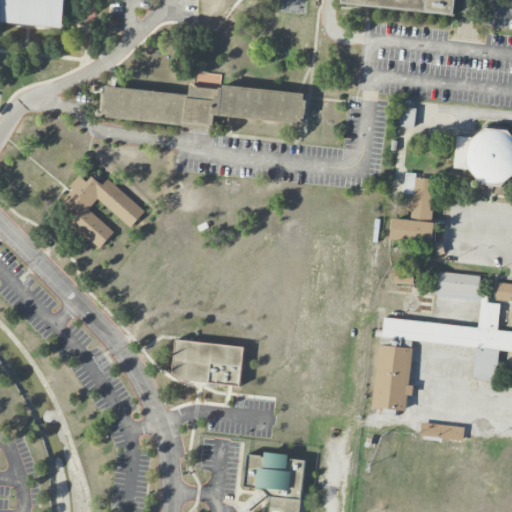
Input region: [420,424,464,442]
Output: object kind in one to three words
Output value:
shed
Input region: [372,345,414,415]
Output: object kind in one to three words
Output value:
building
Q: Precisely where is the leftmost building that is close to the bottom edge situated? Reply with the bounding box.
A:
[244,451,306,512]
